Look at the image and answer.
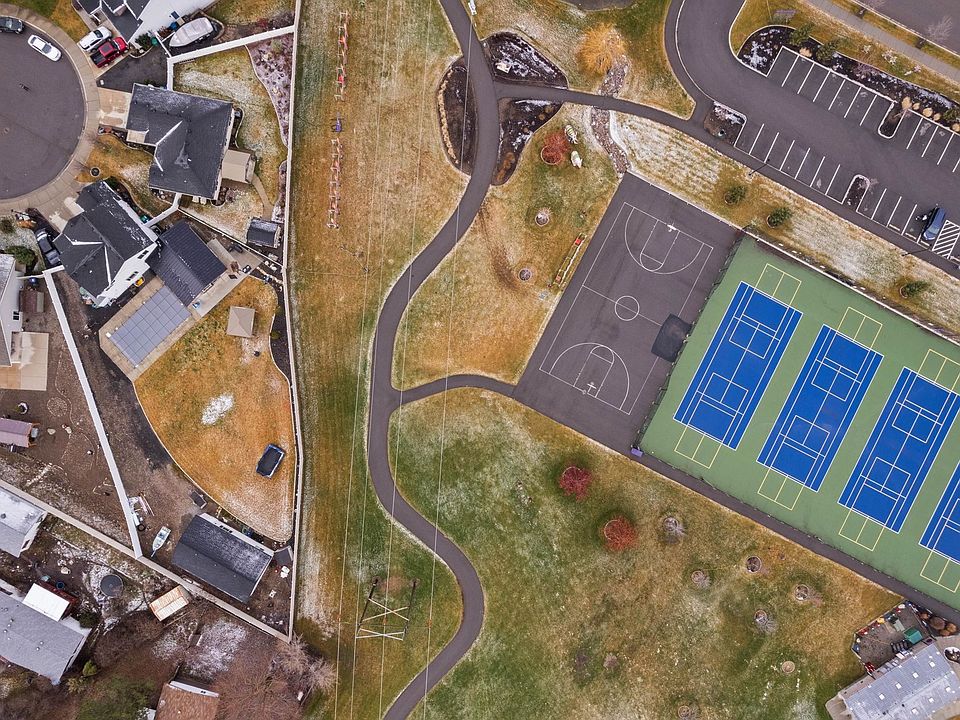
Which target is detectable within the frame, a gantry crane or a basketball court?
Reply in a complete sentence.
I can see a basketball court in this picture.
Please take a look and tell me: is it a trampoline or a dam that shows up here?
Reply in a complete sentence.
There is a trampoline in the scene.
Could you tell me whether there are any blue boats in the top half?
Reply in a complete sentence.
No, there's no blue boat to be seen in the top half.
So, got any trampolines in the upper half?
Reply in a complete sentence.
No, the scene shows no trampoline in the upper half.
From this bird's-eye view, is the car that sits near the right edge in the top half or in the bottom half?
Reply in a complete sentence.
You can find the car that sits near the right edge in the top half.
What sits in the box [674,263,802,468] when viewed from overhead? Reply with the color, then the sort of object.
blue sports court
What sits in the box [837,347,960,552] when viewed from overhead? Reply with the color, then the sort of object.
blue sports court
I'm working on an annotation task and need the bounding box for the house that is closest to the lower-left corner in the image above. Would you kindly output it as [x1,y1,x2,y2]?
[0,580,88,686]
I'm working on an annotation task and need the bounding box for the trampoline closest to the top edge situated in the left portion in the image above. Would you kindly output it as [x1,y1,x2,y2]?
[257,444,283,477]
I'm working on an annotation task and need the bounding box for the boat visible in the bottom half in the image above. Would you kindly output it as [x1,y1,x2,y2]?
[151,528,169,554]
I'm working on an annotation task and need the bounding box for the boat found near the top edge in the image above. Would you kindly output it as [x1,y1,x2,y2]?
[162,13,212,50]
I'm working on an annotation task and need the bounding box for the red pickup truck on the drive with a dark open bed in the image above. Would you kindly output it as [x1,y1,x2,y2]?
[87,36,127,65]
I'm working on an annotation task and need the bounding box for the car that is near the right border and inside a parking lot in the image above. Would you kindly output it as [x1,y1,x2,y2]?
[924,206,953,240]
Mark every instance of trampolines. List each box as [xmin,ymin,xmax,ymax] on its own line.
[98,574,123,597]
[257,444,283,477]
